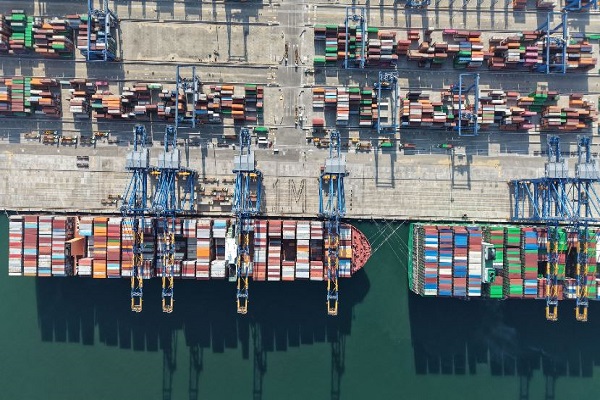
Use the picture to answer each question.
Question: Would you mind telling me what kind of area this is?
port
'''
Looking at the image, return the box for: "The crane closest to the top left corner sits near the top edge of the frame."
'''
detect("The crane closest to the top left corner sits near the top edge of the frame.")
[86,0,122,64]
